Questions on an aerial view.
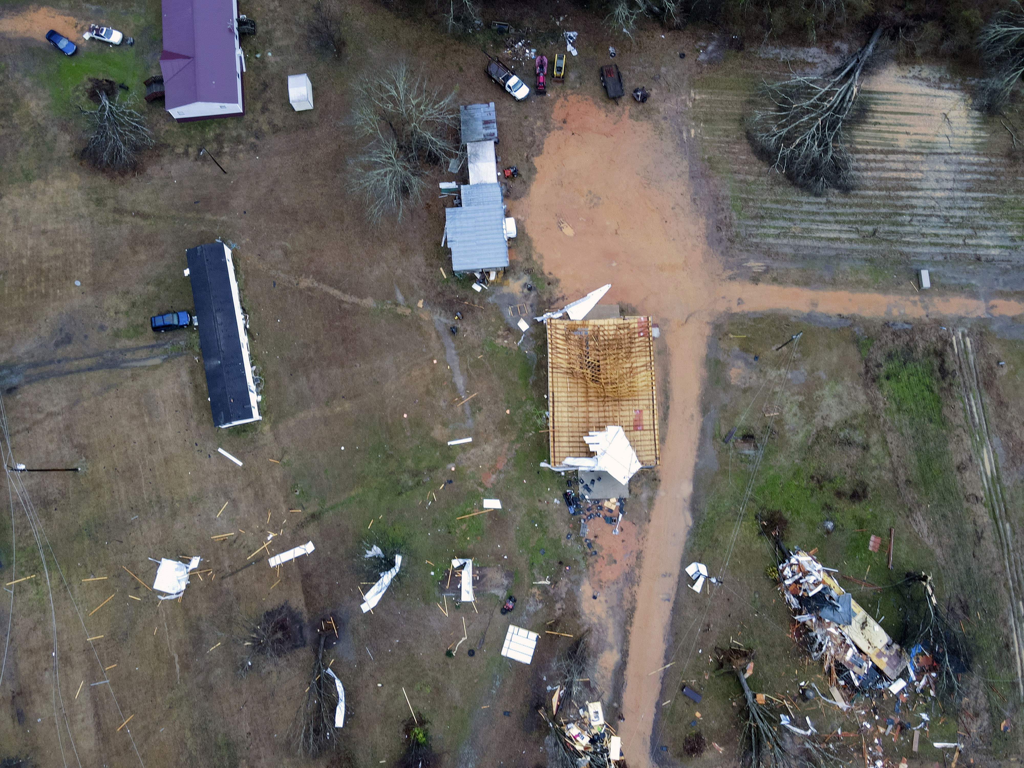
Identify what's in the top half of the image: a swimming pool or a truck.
truck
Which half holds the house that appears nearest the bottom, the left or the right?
right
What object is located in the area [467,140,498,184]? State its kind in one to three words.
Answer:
shed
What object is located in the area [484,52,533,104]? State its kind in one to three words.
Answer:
truck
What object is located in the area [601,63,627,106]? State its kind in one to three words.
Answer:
trailer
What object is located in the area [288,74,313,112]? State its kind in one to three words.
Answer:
shed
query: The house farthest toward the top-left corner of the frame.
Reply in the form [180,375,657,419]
[157,0,246,122]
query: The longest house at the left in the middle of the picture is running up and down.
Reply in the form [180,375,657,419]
[186,241,262,428]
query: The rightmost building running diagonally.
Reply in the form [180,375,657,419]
[798,547,910,679]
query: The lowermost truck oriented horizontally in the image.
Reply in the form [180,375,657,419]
[149,310,193,331]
